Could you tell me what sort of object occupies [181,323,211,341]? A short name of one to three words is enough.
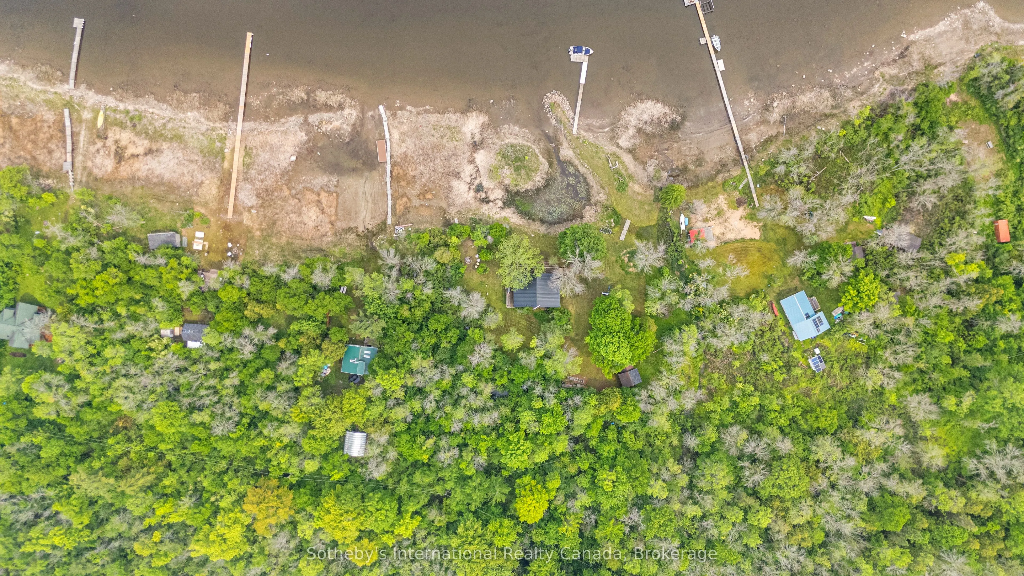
building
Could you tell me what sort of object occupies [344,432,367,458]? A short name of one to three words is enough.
shed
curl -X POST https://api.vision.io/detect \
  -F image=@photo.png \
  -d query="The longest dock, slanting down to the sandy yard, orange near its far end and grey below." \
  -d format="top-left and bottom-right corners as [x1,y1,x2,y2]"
[684,0,757,205]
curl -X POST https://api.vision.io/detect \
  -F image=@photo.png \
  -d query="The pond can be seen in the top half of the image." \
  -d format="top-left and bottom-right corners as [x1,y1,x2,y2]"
[509,150,592,224]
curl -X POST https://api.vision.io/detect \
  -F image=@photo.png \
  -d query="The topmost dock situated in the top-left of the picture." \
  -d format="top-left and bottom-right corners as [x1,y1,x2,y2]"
[69,18,85,89]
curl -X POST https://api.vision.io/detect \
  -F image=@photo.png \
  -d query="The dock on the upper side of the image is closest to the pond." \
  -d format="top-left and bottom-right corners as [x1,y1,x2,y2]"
[569,55,589,135]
